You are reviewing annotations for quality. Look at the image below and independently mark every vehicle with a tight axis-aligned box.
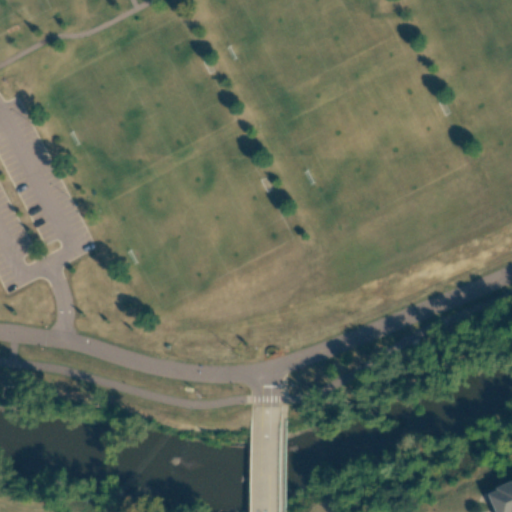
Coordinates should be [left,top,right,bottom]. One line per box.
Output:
[29,206,40,214]
[17,184,28,192]
[85,244,96,252]
[34,218,45,226]
[6,284,17,292]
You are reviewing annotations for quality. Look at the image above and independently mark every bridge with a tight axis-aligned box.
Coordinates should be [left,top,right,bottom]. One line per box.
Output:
[250,405,288,512]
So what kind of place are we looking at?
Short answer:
sports ground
